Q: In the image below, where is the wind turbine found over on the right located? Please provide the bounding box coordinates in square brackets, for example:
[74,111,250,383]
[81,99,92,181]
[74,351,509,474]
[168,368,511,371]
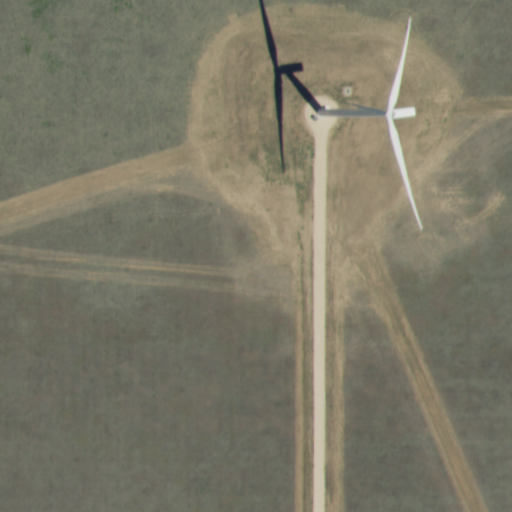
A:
[316,16,422,229]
